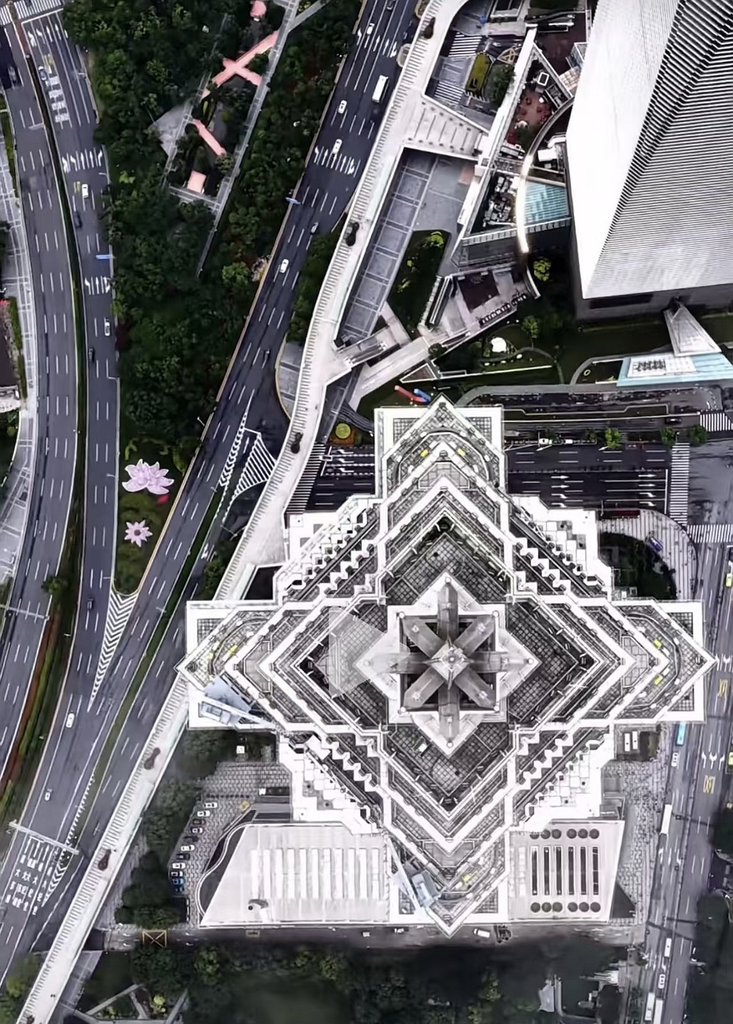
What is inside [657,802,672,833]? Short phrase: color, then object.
white vehicle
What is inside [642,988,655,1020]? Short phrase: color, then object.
white vehicle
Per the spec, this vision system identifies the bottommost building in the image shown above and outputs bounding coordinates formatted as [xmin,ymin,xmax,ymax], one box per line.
[539,981,555,1012]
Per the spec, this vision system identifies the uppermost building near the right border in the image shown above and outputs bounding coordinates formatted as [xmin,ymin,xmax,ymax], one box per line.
[565,0,733,320]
